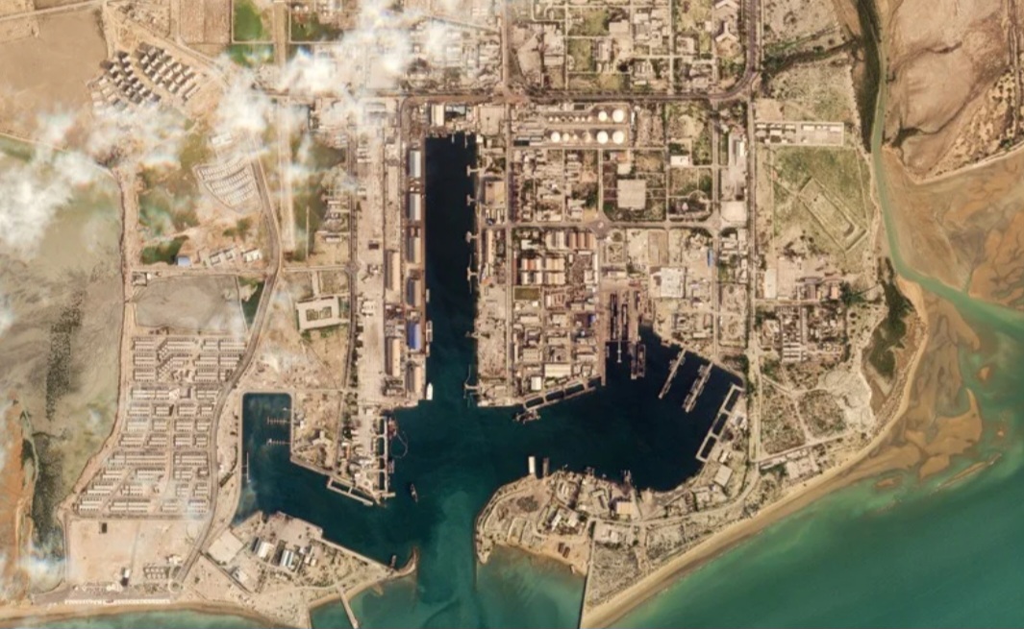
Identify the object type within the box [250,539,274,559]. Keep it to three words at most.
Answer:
hangar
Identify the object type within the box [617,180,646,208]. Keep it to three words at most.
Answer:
building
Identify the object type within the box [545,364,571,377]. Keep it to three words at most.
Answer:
building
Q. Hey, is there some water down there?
Yes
